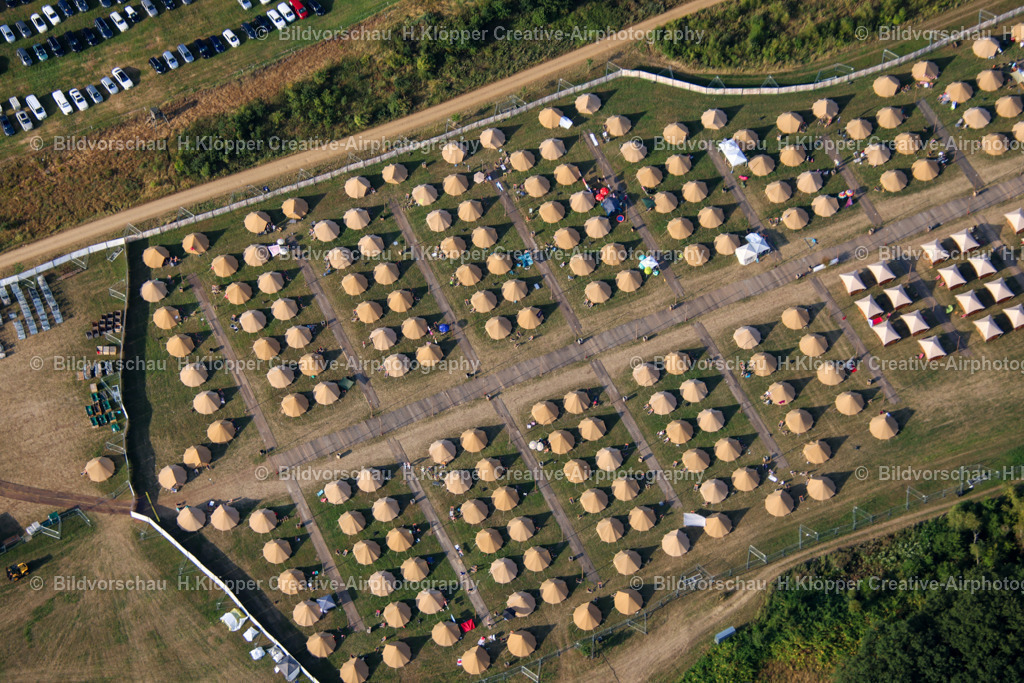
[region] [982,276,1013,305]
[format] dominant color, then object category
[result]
white tent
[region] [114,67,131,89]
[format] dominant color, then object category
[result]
white car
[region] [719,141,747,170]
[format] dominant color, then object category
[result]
white gazebo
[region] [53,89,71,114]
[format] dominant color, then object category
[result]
white vehicle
